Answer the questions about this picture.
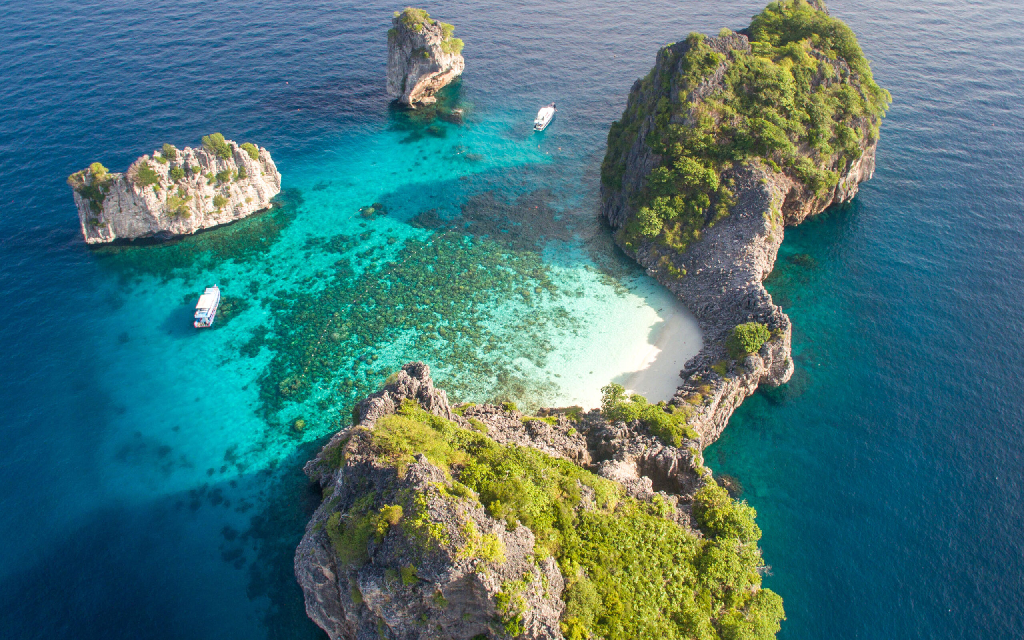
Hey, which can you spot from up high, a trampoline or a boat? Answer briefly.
boat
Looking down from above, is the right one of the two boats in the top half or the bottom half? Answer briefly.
top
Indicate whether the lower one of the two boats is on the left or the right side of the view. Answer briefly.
left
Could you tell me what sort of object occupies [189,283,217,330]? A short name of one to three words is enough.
boat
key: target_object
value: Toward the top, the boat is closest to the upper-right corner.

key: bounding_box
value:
[533,105,555,130]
